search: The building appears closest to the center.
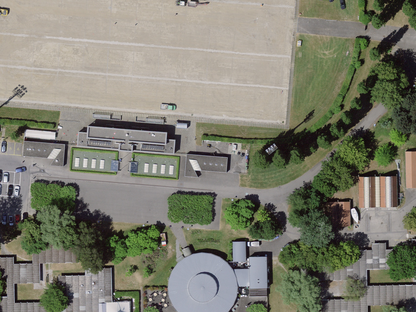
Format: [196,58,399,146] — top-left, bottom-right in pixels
[185,154,228,177]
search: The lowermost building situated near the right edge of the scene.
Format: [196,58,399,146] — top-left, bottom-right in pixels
[327,242,416,312]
